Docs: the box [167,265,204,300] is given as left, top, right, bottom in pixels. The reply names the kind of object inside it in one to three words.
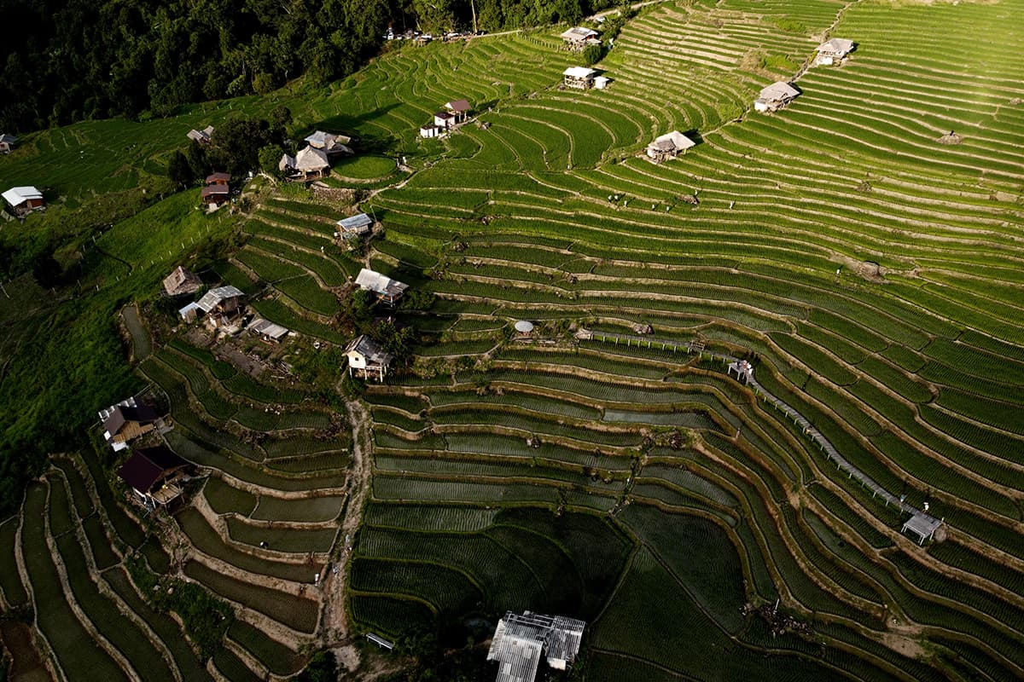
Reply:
shed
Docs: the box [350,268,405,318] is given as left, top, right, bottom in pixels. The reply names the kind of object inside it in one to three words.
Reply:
house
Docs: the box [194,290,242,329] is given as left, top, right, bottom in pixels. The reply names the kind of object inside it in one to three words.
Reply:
house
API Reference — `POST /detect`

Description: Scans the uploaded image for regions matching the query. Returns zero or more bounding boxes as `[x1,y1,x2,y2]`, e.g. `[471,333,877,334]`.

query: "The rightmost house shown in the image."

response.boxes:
[817,38,857,72]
